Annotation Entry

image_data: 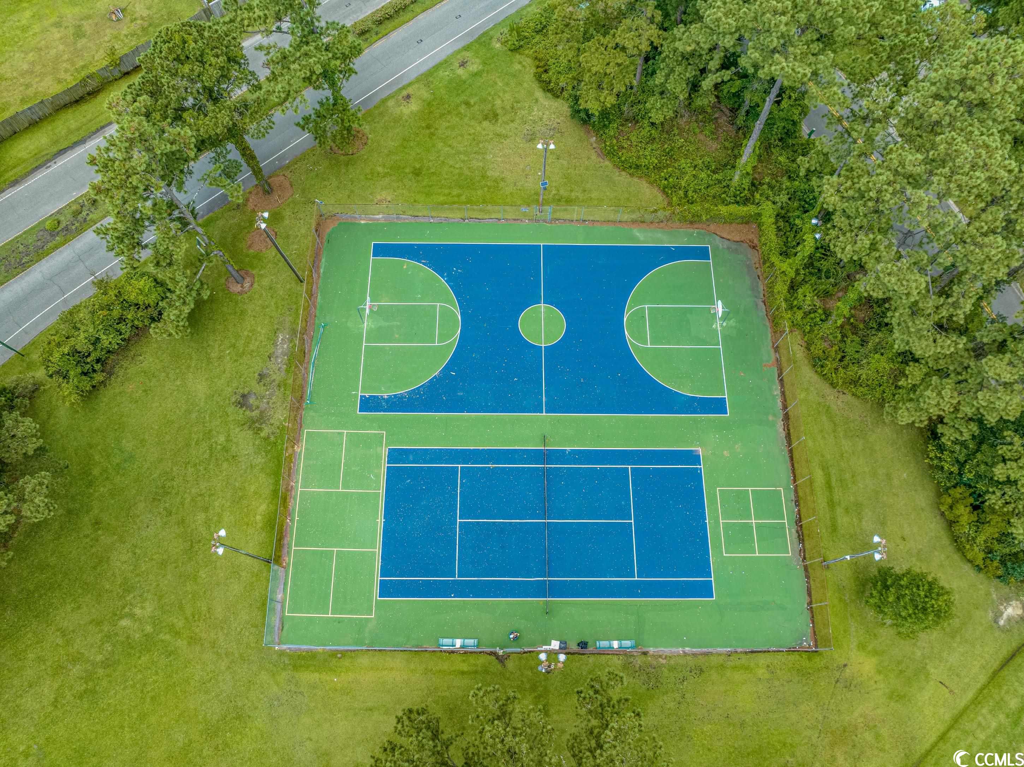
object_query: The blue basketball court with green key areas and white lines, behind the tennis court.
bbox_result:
[359,243,729,415]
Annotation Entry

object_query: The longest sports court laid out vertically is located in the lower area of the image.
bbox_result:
[285,431,385,616]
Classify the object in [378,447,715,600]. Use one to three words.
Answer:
tennis court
